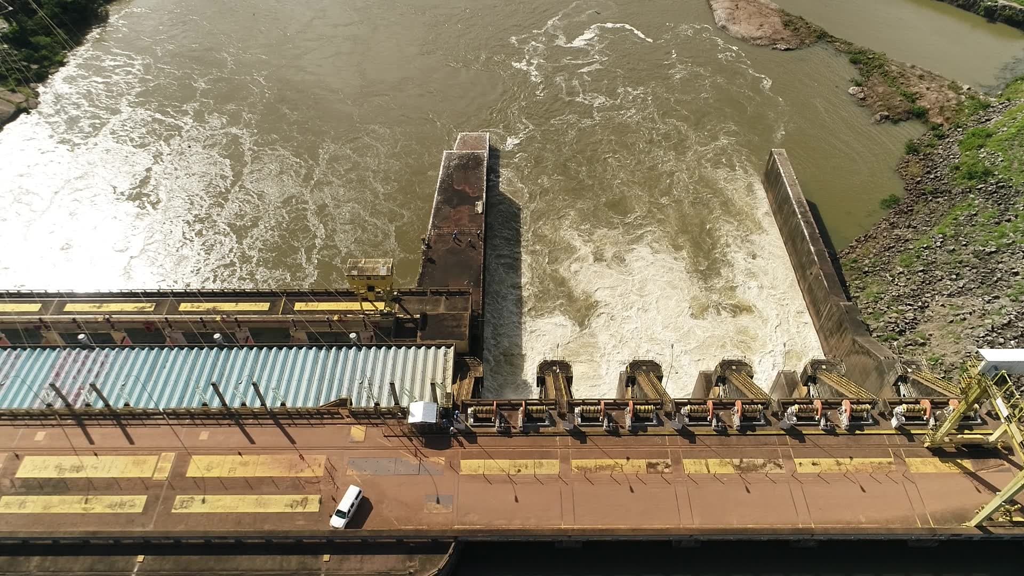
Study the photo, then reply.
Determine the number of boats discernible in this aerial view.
none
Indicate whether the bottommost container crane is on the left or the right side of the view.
right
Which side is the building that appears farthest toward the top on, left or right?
left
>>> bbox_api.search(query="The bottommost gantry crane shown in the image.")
[929,350,1024,528]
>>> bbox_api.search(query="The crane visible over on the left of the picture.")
[346,258,402,320]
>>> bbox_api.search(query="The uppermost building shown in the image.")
[0,338,457,407]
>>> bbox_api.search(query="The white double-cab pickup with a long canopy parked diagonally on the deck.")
[334,481,367,530]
